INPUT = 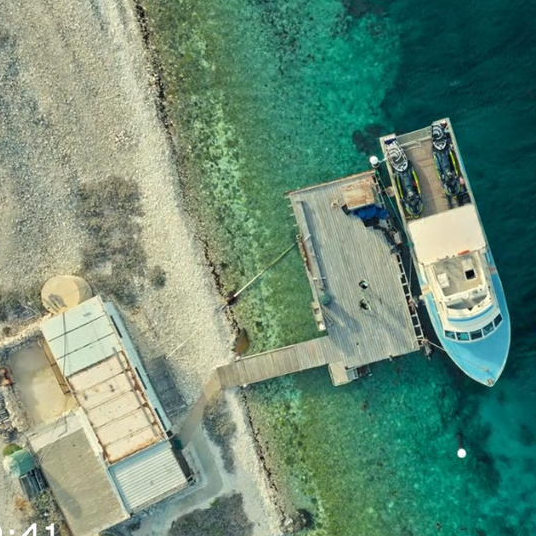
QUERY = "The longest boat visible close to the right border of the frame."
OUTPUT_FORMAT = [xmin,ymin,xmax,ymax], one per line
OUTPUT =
[379,117,512,389]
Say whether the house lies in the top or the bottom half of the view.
bottom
